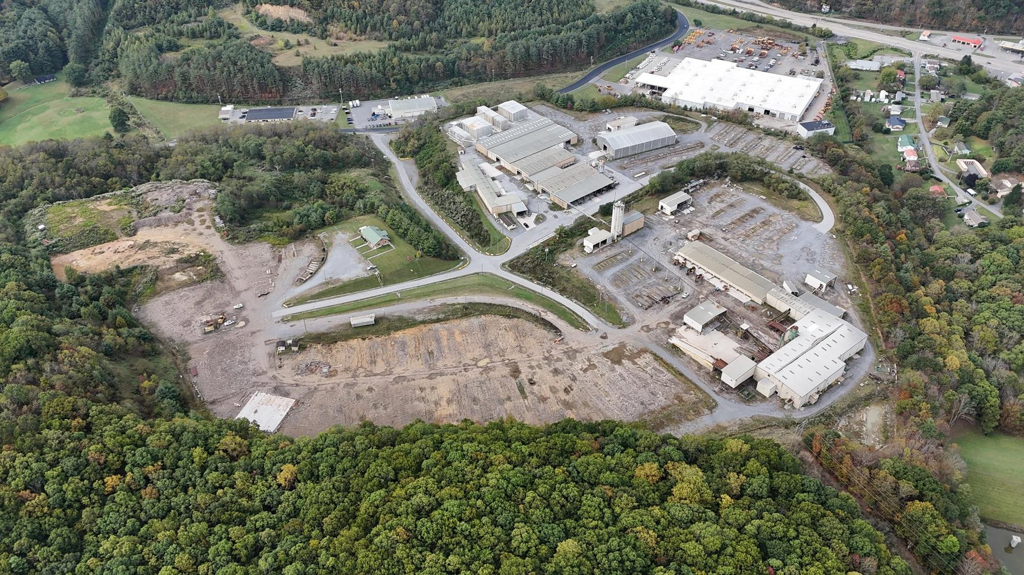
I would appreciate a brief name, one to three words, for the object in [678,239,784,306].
shed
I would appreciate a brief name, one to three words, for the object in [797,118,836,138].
building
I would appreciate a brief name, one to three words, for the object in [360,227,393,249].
house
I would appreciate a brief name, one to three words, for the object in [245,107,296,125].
building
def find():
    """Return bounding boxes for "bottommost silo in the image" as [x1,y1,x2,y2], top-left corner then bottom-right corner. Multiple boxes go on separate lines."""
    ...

[611,194,626,242]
